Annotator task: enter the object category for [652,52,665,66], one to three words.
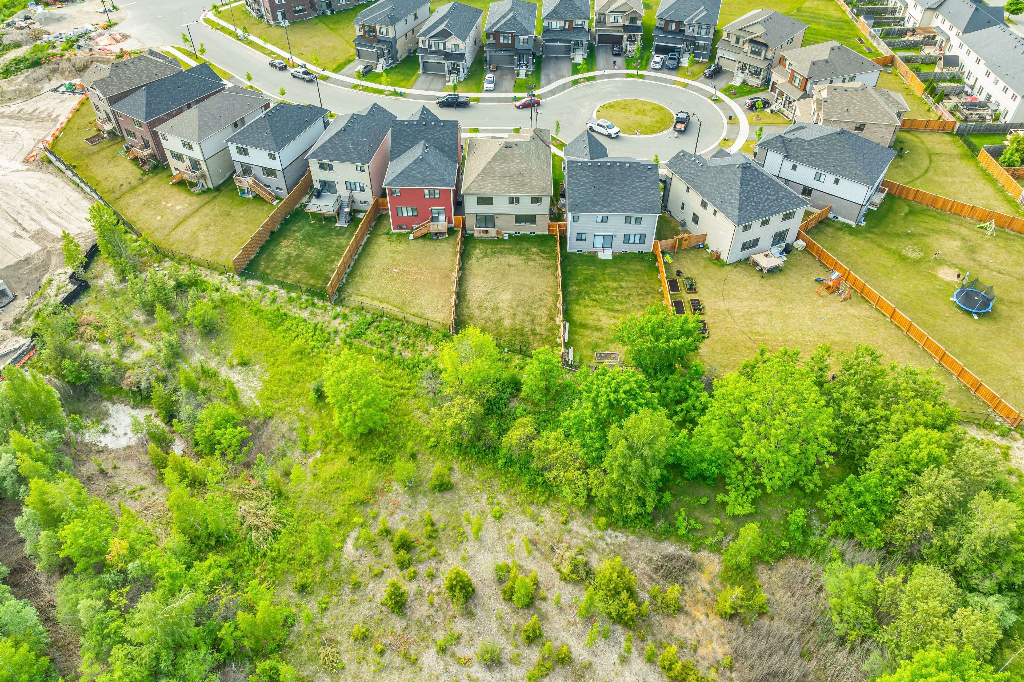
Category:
vehicle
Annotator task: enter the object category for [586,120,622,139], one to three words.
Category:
vehicle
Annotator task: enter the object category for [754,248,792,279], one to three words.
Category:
gazebo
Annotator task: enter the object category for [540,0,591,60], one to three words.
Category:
house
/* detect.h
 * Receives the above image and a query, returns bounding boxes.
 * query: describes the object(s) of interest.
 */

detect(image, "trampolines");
[957,278,997,313]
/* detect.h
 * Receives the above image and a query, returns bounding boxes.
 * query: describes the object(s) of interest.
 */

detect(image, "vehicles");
[514,96,542,109]
[611,41,623,54]
[675,109,691,129]
[436,94,469,109]
[265,58,290,69]
[586,120,622,139]
[286,65,317,81]
[667,50,680,65]
[652,52,665,66]
[746,94,773,108]
[353,62,377,75]
[483,73,495,87]
[704,62,724,76]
